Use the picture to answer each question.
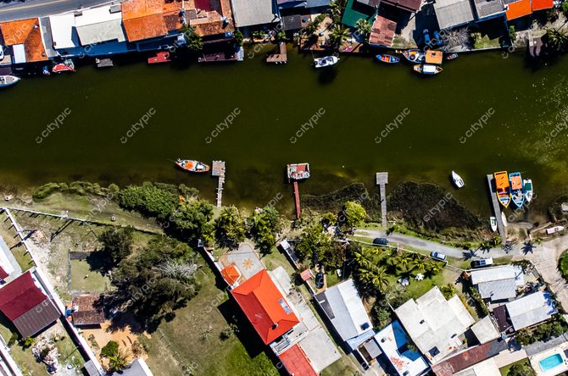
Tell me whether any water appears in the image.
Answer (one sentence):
Yes, there's water in this view.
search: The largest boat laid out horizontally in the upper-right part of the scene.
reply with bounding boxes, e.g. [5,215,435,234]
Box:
[402,49,444,64]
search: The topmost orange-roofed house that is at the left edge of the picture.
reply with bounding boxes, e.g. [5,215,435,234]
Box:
[0,18,54,71]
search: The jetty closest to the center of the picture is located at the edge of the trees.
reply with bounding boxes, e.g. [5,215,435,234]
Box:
[288,163,309,217]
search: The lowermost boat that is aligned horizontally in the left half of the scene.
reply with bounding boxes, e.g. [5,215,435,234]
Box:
[176,160,212,173]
